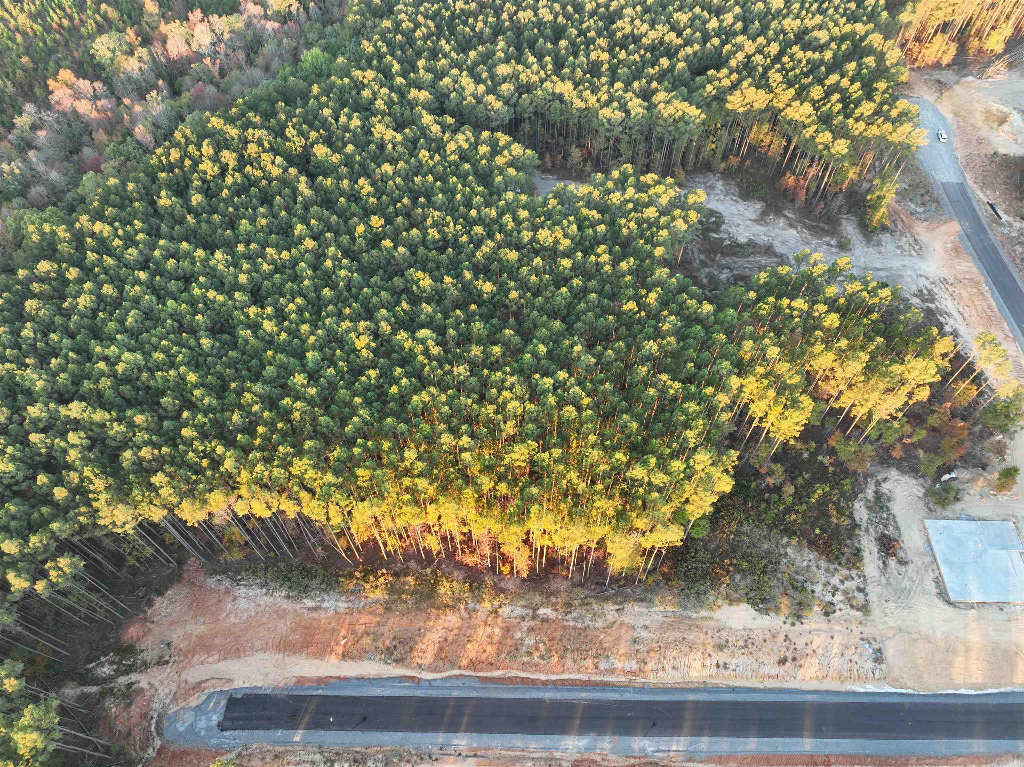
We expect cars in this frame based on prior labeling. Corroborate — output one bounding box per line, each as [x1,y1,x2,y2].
[936,130,948,143]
